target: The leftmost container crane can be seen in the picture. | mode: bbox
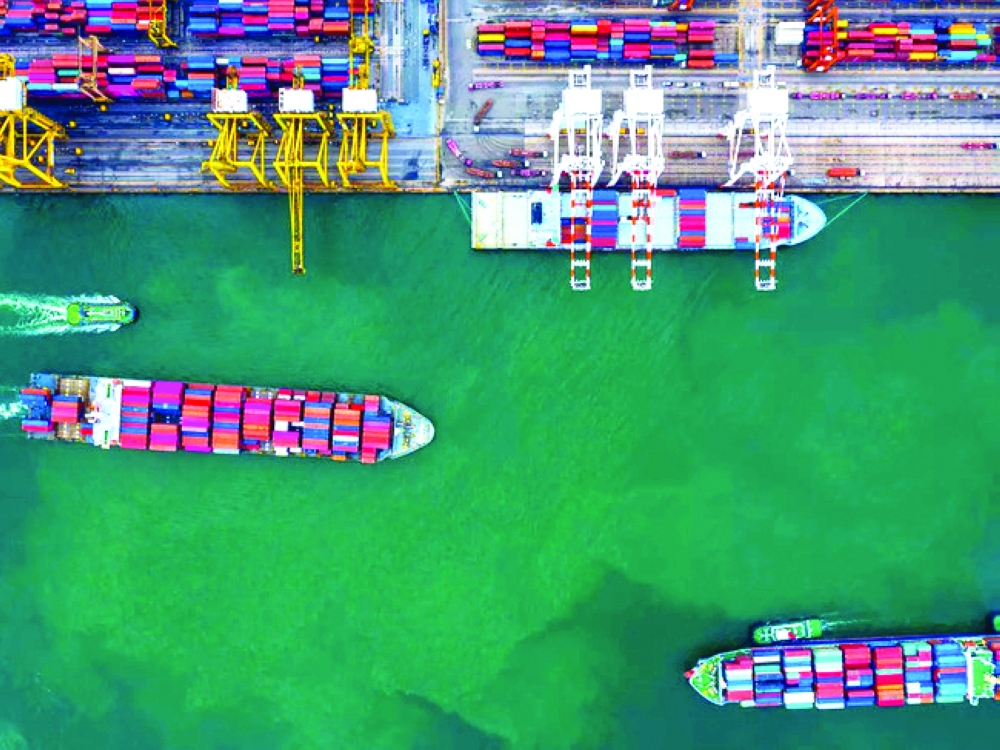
[0,64,66,188]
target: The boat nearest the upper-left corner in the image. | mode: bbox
[65,301,138,326]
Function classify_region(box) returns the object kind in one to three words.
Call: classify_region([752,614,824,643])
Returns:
boat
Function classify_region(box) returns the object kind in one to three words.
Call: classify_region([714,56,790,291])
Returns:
container crane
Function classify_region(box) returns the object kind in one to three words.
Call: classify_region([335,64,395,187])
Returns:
container crane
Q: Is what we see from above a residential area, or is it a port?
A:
port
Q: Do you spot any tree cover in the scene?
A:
No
